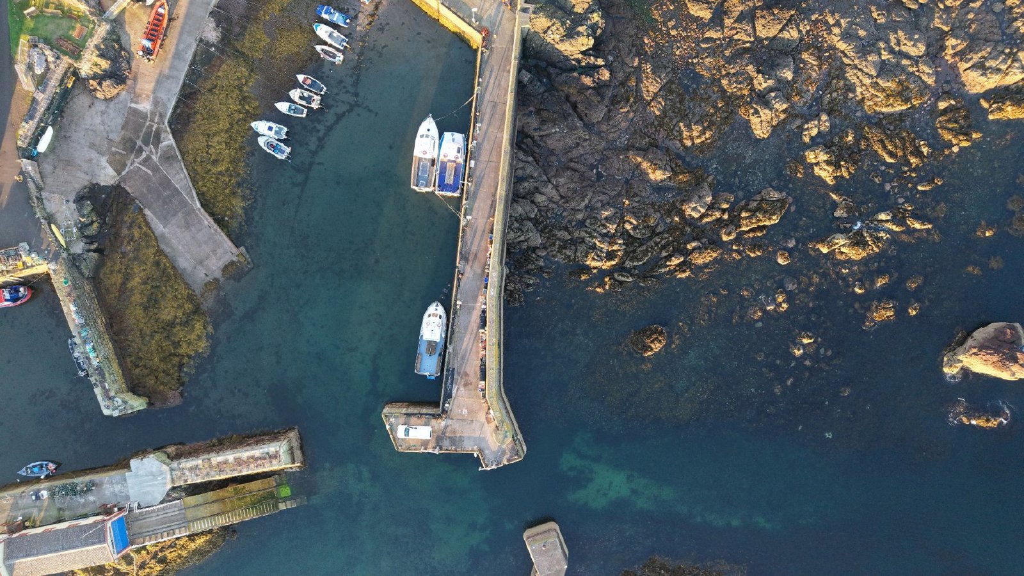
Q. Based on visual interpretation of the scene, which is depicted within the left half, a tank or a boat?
boat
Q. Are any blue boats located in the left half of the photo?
Yes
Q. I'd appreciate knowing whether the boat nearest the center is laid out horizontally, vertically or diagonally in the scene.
vertically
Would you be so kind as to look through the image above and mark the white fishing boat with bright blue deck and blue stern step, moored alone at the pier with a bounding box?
[416,302,449,378]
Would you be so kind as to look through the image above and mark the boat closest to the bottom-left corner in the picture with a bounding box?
[17,461,61,477]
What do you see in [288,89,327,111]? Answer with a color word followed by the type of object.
white boat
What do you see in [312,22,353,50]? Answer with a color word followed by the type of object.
white boat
